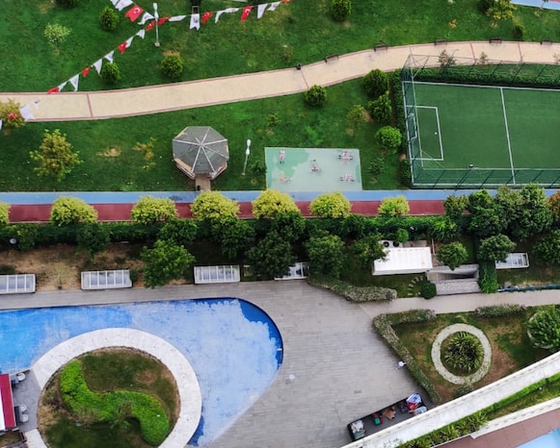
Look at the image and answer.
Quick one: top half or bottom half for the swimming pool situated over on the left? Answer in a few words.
bottom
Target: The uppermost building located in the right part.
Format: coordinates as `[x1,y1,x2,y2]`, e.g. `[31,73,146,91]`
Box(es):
[369,246,432,275]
